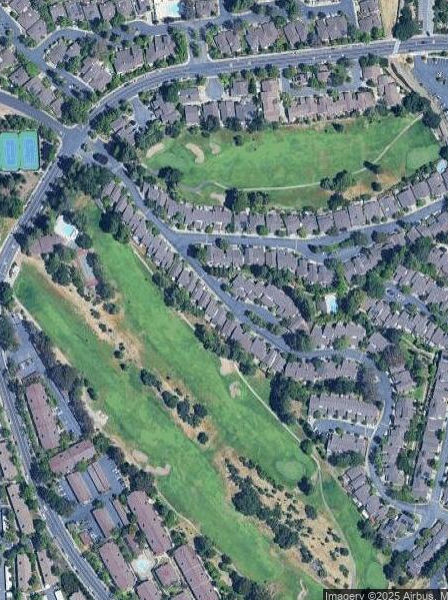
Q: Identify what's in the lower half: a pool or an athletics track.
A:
pool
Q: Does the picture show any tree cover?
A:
Yes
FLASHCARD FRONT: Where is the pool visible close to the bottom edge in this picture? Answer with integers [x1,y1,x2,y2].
[130,551,156,579]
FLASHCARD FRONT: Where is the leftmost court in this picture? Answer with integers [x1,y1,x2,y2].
[0,132,19,172]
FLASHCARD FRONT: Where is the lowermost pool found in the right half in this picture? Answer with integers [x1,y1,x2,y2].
[325,294,340,315]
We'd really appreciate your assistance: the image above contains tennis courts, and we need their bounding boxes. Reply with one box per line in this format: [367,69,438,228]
[20,131,39,170]
[0,132,19,172]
